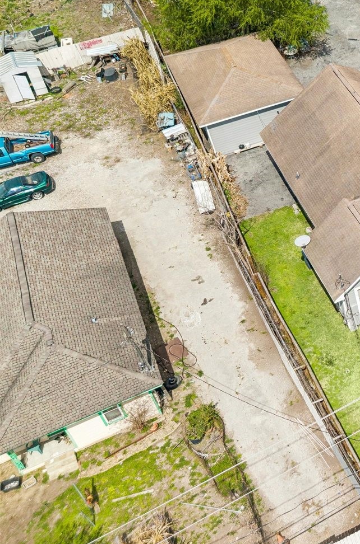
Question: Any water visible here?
No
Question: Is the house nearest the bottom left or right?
left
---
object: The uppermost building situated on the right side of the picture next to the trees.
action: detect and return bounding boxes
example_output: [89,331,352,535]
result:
[157,30,305,153]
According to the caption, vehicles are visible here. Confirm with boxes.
[0,129,56,166]
[0,165,54,205]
